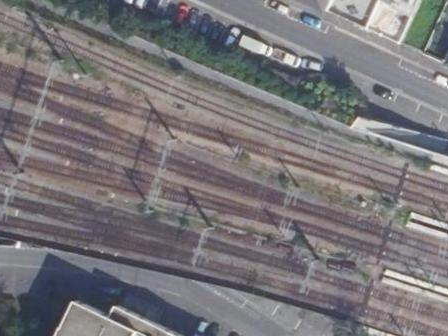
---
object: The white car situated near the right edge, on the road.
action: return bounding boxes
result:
[433,73,448,86]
